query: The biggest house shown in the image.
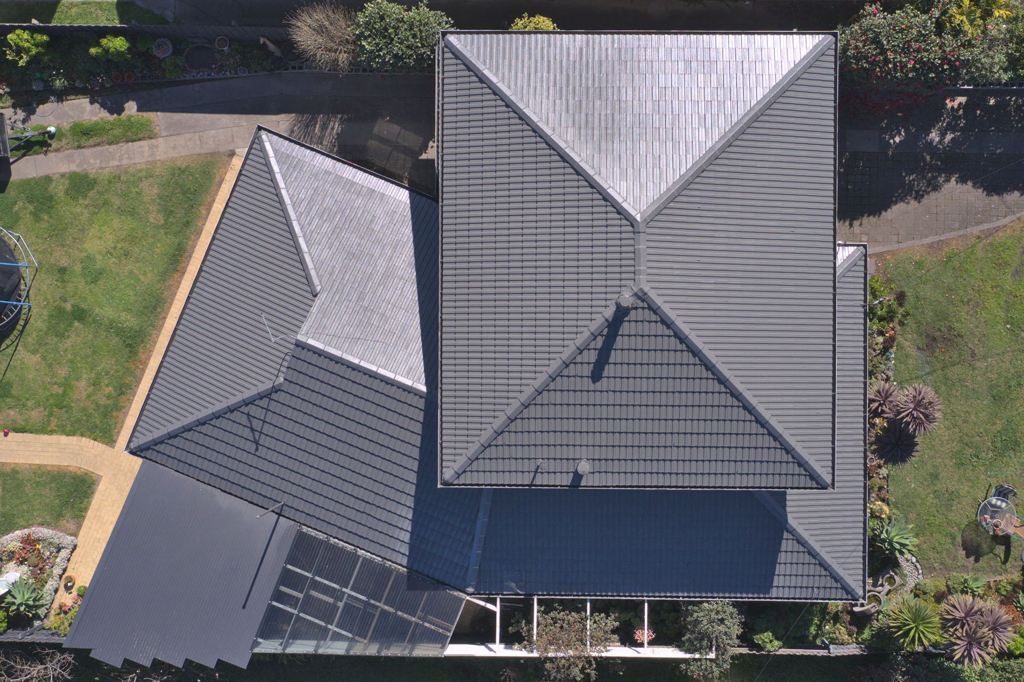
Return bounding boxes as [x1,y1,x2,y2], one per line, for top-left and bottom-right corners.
[125,31,868,602]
